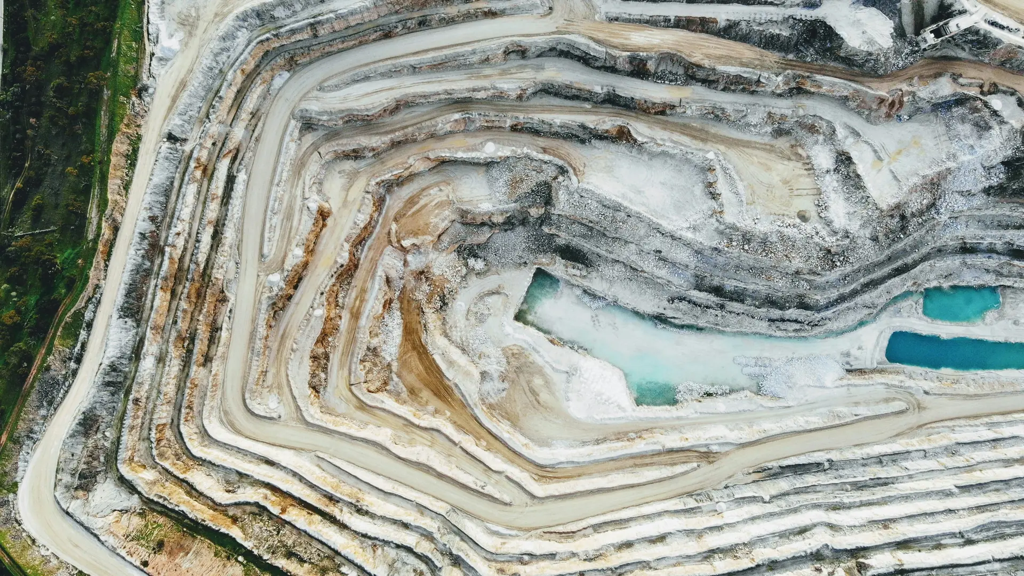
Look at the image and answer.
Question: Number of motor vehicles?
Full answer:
The count of motor vehicles is 0.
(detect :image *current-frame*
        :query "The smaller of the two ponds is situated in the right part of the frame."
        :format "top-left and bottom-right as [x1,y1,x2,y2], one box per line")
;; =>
[921,282,1003,323]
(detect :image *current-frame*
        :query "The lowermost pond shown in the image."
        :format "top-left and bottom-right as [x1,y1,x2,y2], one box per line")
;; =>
[885,330,1024,373]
